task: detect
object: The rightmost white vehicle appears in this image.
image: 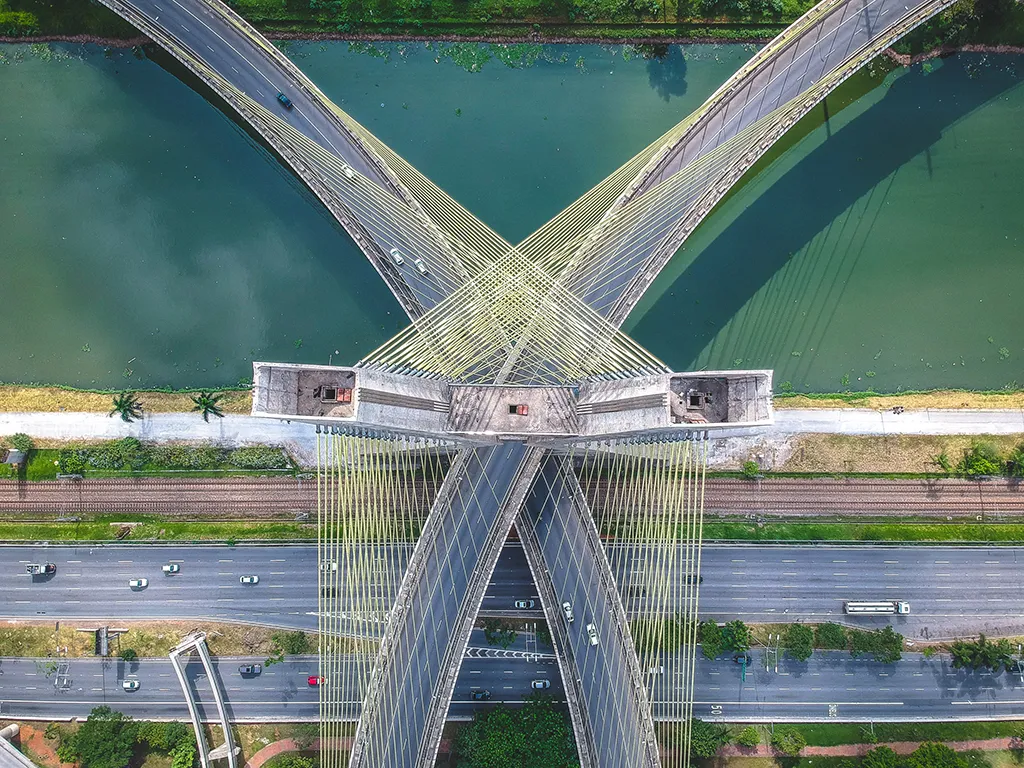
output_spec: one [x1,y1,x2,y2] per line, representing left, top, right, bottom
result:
[841,600,910,614]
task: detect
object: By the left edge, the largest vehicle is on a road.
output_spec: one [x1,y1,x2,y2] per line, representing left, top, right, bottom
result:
[25,563,57,575]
